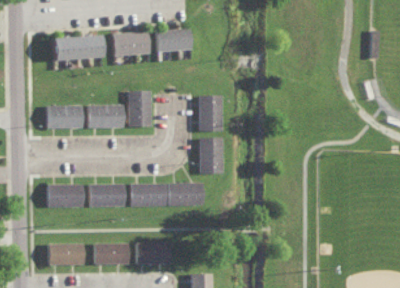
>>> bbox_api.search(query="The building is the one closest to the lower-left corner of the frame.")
[48,244,86,266]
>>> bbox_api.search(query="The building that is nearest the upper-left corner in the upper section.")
[52,34,107,69]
